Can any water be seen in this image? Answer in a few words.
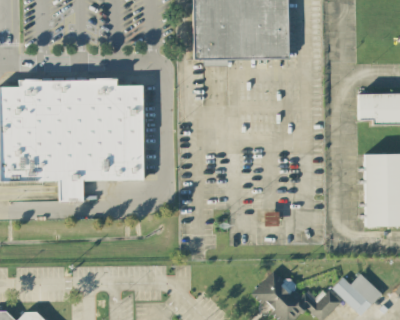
No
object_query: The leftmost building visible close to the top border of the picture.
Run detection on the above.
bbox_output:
[193,0,289,66]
